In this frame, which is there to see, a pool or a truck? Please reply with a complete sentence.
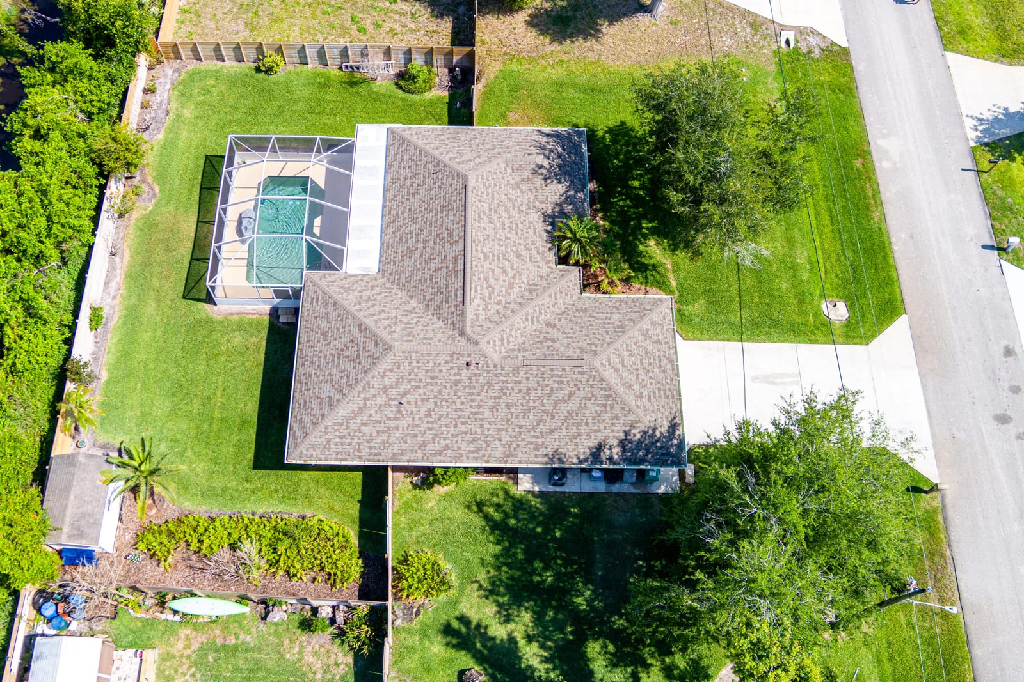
It is a pool that can be seen here.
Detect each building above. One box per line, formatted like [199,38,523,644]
[283,123,689,471]
[50,451,127,554]
[27,637,119,682]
